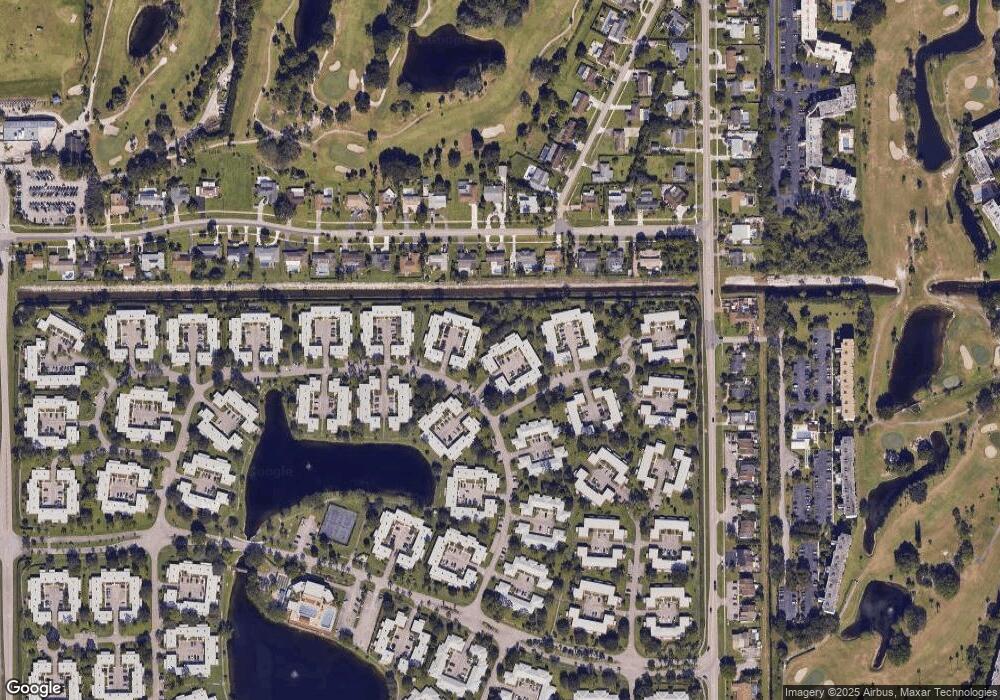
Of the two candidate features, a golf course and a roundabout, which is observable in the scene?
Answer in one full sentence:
I can see a golf course in this picture.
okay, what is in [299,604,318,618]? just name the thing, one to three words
swimming pool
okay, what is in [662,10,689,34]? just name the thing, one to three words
house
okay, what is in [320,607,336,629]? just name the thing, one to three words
swimming pool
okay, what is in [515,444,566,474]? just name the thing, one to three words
building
